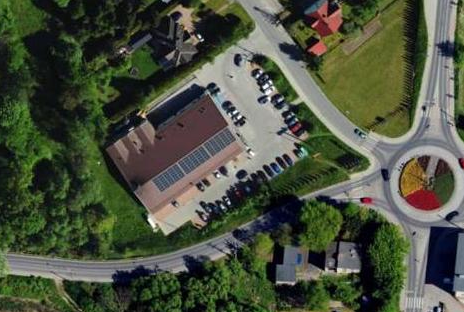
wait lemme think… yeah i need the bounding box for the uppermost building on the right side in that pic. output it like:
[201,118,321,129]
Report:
[306,0,348,40]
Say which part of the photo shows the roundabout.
right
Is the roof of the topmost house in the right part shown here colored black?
No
